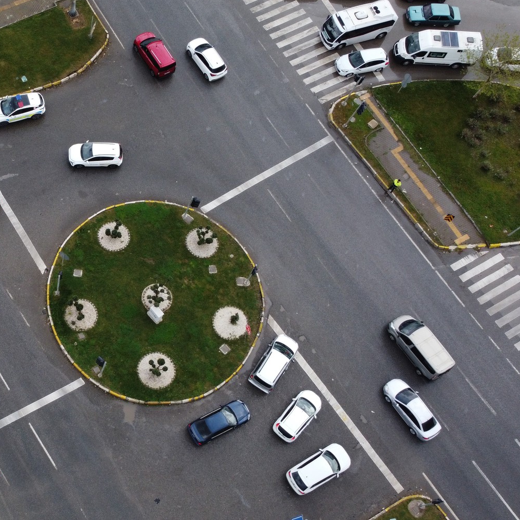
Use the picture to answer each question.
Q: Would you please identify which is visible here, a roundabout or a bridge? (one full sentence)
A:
Of the two, only a roundabout appears.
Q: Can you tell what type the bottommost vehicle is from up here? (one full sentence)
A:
I'd say the bottommost vehicle is an automobile.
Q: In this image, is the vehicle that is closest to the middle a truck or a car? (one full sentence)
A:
From above, the vehicle that is closest to the middle can be identified as a car.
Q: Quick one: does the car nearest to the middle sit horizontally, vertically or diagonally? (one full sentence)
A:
In this picture, the car nearest to the middle lies diagonally.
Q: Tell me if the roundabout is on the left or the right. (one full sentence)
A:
The roundabout sits on the left side.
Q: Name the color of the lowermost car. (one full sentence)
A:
The lowermost car is white.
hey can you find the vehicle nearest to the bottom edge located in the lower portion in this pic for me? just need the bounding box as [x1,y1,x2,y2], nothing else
[285,445,353,495]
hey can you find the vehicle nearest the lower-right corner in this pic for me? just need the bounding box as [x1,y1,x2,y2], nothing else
[382,380,443,442]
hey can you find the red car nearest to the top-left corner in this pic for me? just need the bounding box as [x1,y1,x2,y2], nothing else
[135,32,176,79]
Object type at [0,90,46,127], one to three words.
car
